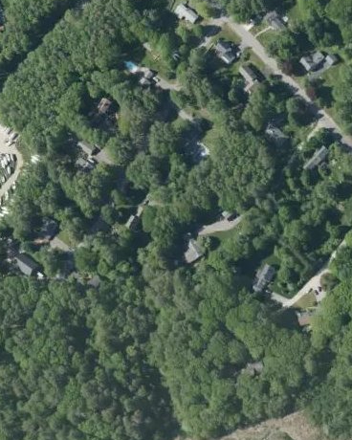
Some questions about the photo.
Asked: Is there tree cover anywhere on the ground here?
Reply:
Yes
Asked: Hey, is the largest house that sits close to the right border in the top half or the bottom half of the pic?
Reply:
top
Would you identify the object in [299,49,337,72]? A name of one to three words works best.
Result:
house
